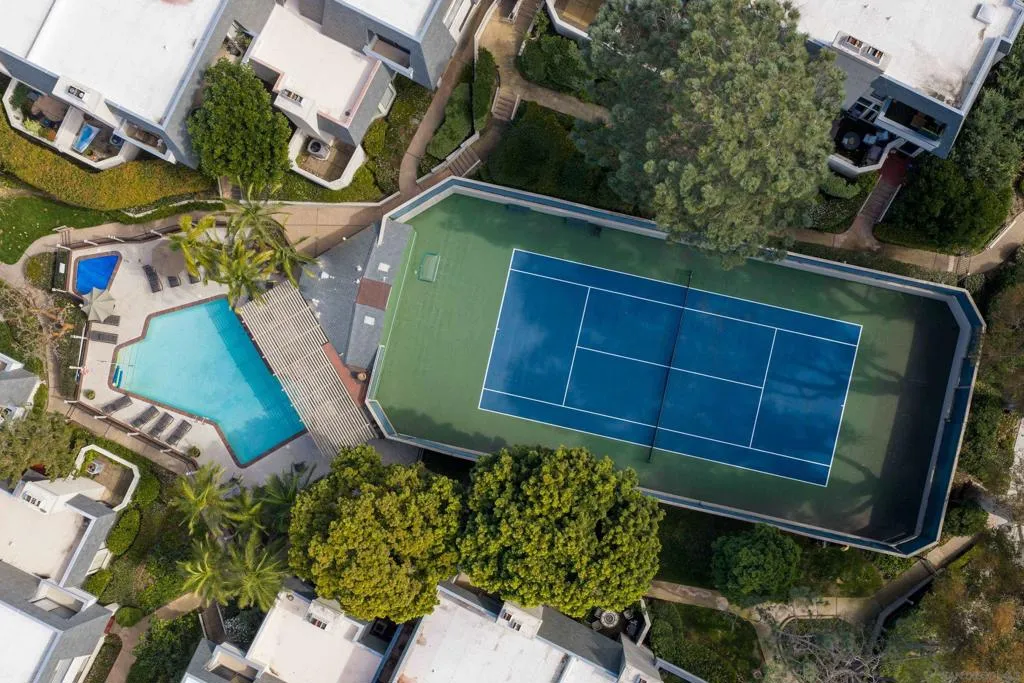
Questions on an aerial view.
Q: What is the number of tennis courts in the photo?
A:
1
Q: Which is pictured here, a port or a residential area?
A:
residential area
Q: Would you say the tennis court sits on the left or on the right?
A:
right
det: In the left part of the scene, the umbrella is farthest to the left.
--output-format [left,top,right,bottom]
[76,284,117,321]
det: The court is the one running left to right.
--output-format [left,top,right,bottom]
[377,195,960,545]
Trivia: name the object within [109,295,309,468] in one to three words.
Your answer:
swimming pool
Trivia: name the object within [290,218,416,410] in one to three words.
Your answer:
building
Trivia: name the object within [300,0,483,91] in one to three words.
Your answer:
house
